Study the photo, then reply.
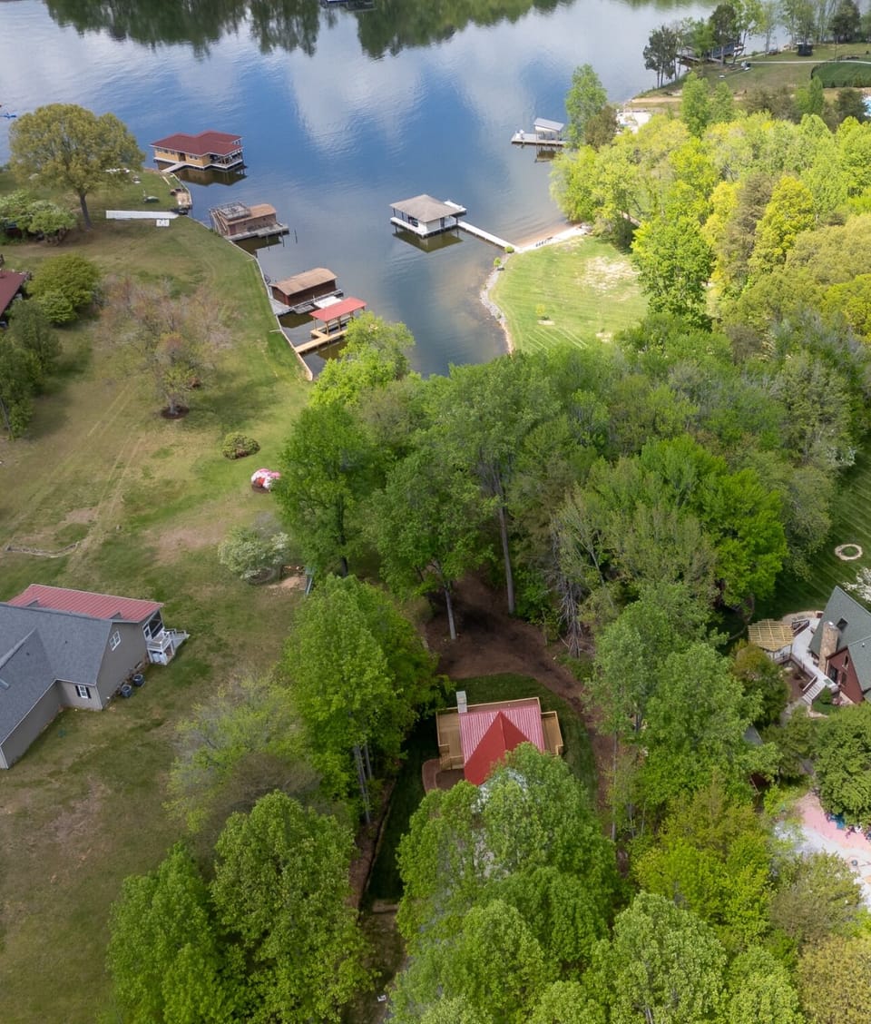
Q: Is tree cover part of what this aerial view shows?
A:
Yes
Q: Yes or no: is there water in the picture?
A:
Yes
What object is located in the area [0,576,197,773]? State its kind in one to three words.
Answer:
house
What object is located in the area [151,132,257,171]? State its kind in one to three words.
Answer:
building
